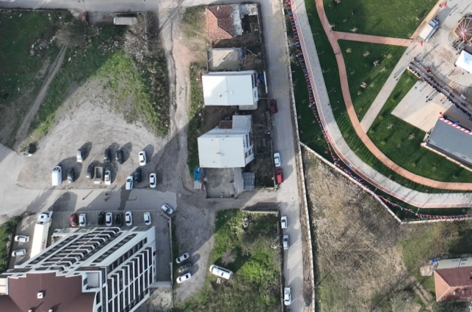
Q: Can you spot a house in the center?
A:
Yes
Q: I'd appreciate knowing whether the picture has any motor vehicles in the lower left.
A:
Yes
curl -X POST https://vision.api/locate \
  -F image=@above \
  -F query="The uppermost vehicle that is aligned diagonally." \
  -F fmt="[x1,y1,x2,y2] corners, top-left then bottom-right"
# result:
[421,22,437,41]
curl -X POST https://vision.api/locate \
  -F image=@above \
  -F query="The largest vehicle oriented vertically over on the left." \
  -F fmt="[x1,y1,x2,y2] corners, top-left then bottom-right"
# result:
[24,211,48,262]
